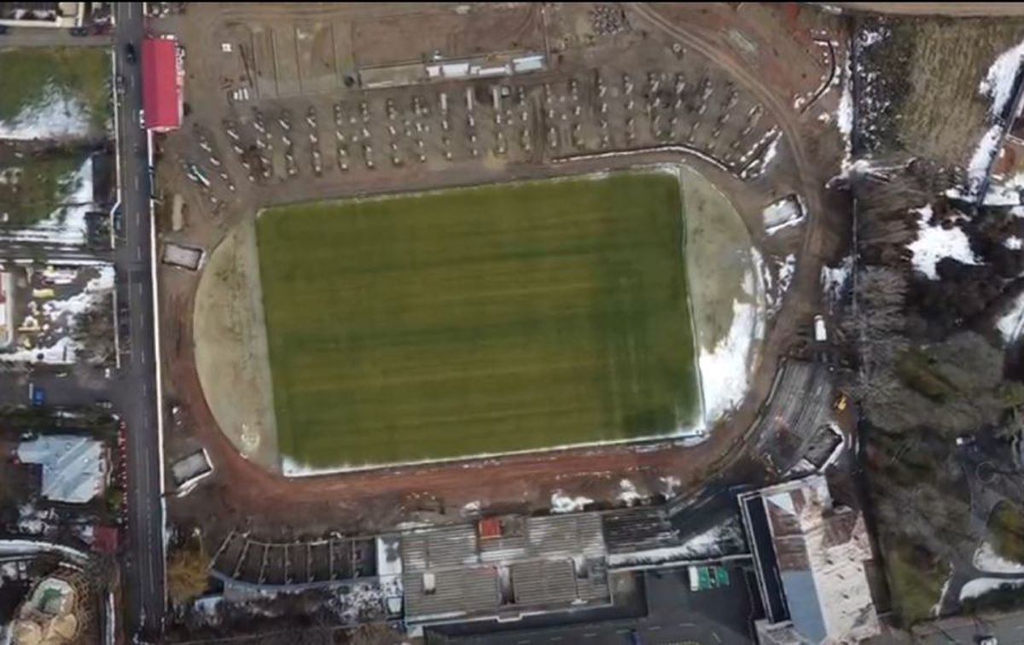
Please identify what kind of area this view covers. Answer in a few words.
sports ground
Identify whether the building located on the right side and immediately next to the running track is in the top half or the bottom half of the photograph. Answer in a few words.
bottom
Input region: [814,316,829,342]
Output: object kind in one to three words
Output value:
vehicle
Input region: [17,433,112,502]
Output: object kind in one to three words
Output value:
house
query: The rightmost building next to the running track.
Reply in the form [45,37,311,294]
[748,474,880,642]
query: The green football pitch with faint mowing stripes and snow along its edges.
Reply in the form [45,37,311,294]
[258,168,707,477]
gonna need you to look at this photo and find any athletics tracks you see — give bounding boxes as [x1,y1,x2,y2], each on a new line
[169,154,799,507]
